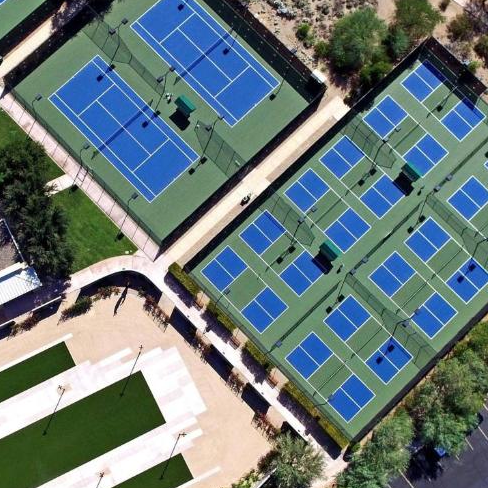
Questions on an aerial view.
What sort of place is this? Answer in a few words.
sports ground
